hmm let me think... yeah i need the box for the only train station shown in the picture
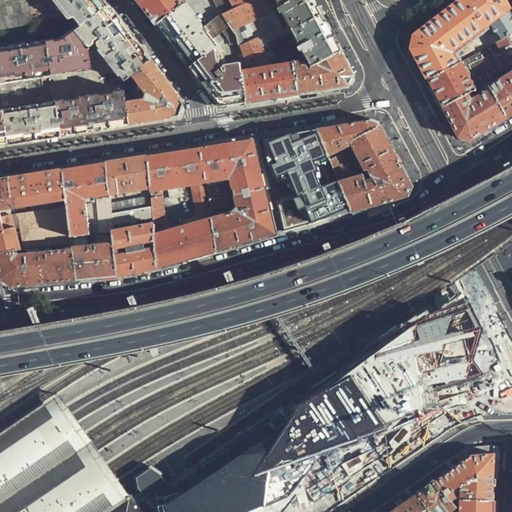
[0,394,129,512]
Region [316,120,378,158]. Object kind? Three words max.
house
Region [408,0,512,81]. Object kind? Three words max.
house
